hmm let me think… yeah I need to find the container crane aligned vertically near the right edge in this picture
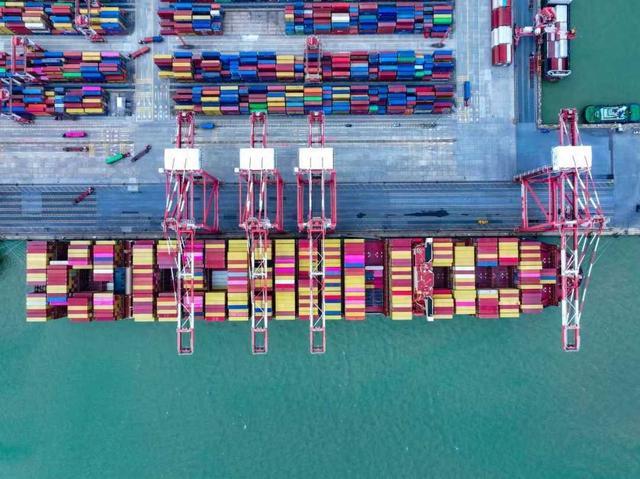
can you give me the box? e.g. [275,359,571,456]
[510,111,609,356]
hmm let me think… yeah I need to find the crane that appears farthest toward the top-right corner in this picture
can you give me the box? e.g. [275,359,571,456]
[515,9,576,47]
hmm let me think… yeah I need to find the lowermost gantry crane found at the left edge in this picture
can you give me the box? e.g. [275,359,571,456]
[0,71,35,122]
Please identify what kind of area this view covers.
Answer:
port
